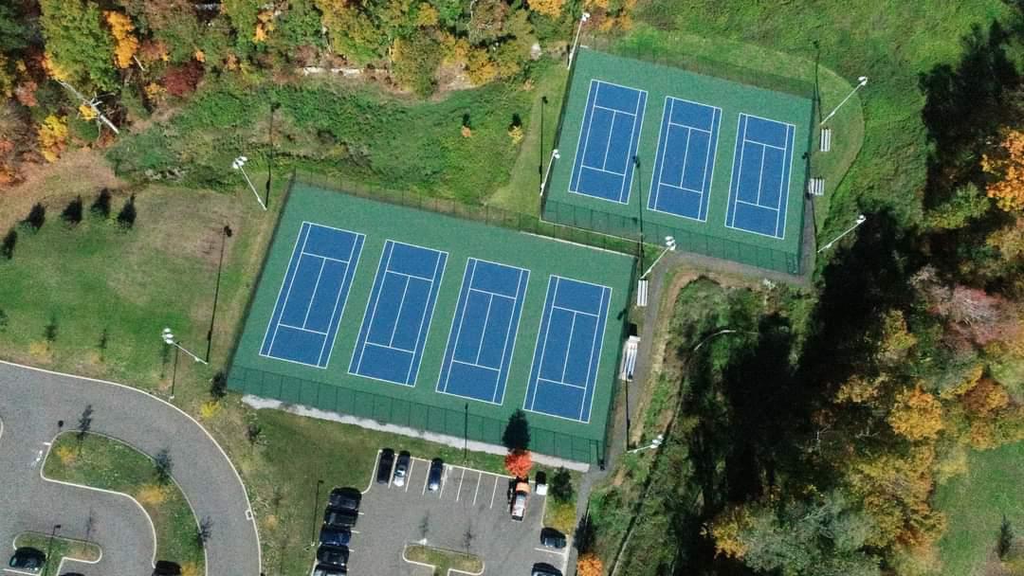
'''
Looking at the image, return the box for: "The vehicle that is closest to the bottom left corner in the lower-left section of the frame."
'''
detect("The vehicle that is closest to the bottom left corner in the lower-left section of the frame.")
[9,551,42,568]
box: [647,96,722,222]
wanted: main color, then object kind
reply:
blue tennis court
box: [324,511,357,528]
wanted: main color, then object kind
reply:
black car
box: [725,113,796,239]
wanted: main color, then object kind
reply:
blue tennis court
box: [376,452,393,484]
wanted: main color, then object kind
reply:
black car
